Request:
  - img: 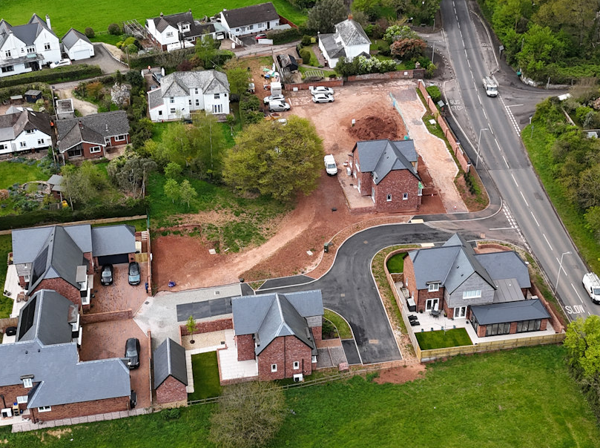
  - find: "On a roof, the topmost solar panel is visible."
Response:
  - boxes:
[33,249,50,281]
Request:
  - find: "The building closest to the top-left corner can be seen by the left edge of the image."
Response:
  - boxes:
[0,7,60,70]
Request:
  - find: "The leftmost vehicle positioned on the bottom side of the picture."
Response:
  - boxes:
[98,266,113,287]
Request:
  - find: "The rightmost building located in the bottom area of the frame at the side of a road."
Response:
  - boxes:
[407,219,552,336]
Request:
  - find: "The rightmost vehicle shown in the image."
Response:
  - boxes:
[586,274,600,304]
